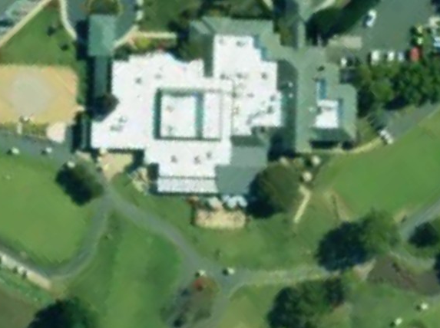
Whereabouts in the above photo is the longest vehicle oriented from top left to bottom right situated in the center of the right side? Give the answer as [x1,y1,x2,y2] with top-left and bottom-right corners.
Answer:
[379,128,393,145]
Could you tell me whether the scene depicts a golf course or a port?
golf course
